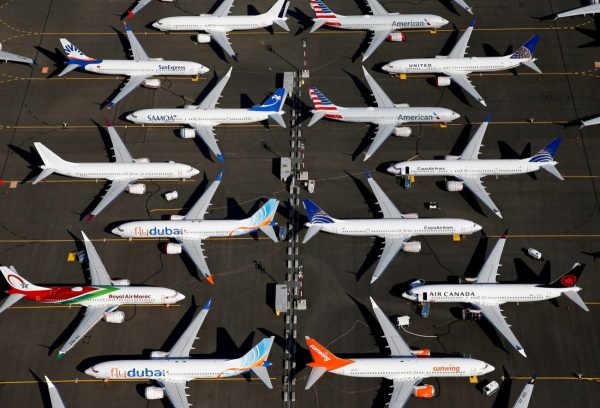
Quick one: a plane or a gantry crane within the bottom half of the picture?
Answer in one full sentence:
You can see a plane within the bottom half of the picture.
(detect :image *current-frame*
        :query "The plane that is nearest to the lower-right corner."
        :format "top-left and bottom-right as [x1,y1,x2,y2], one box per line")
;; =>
[515,373,536,408]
